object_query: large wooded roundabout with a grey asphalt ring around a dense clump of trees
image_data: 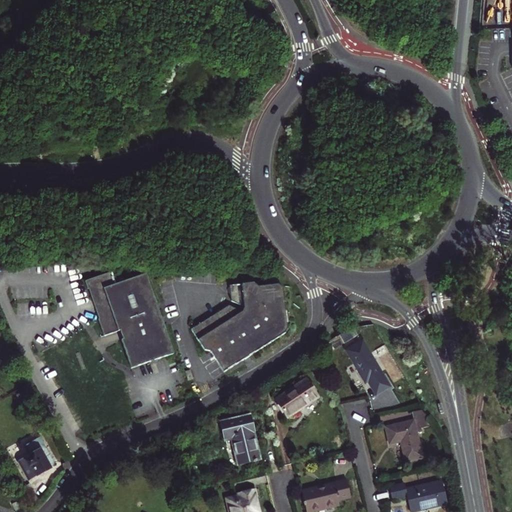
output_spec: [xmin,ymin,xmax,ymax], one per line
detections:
[248,54,484,292]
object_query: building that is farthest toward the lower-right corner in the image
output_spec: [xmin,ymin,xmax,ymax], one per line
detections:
[390,479,448,512]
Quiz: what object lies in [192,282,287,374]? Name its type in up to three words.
building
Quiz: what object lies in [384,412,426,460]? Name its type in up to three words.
house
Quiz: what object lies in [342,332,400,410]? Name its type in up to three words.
house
